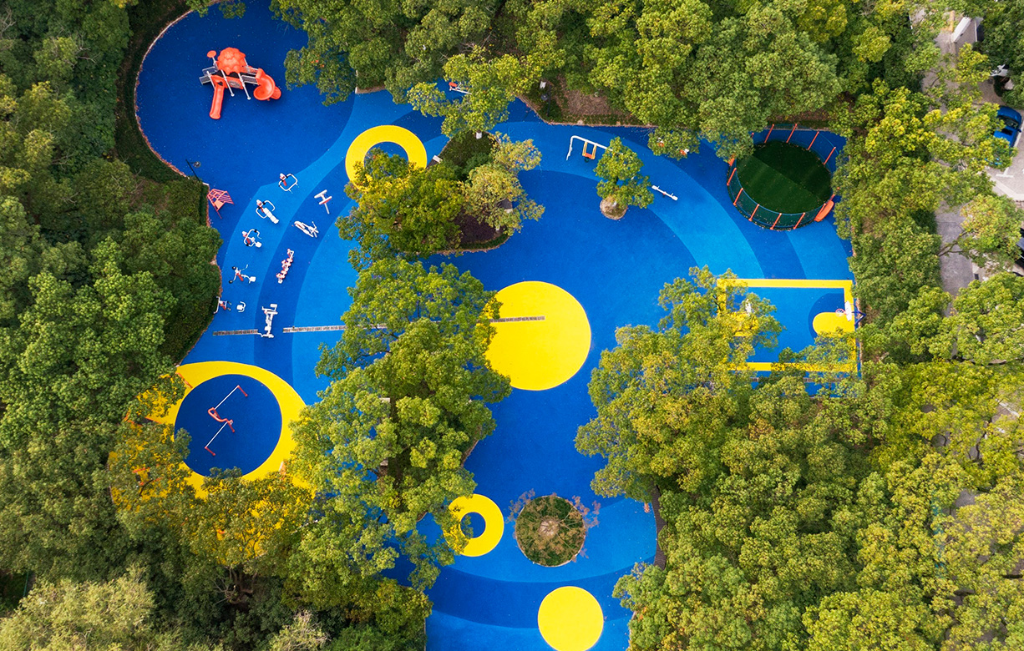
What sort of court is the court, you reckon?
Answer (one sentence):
I'd identify the court as a basketball court.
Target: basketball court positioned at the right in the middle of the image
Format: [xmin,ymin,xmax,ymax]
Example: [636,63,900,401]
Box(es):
[717,279,858,373]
